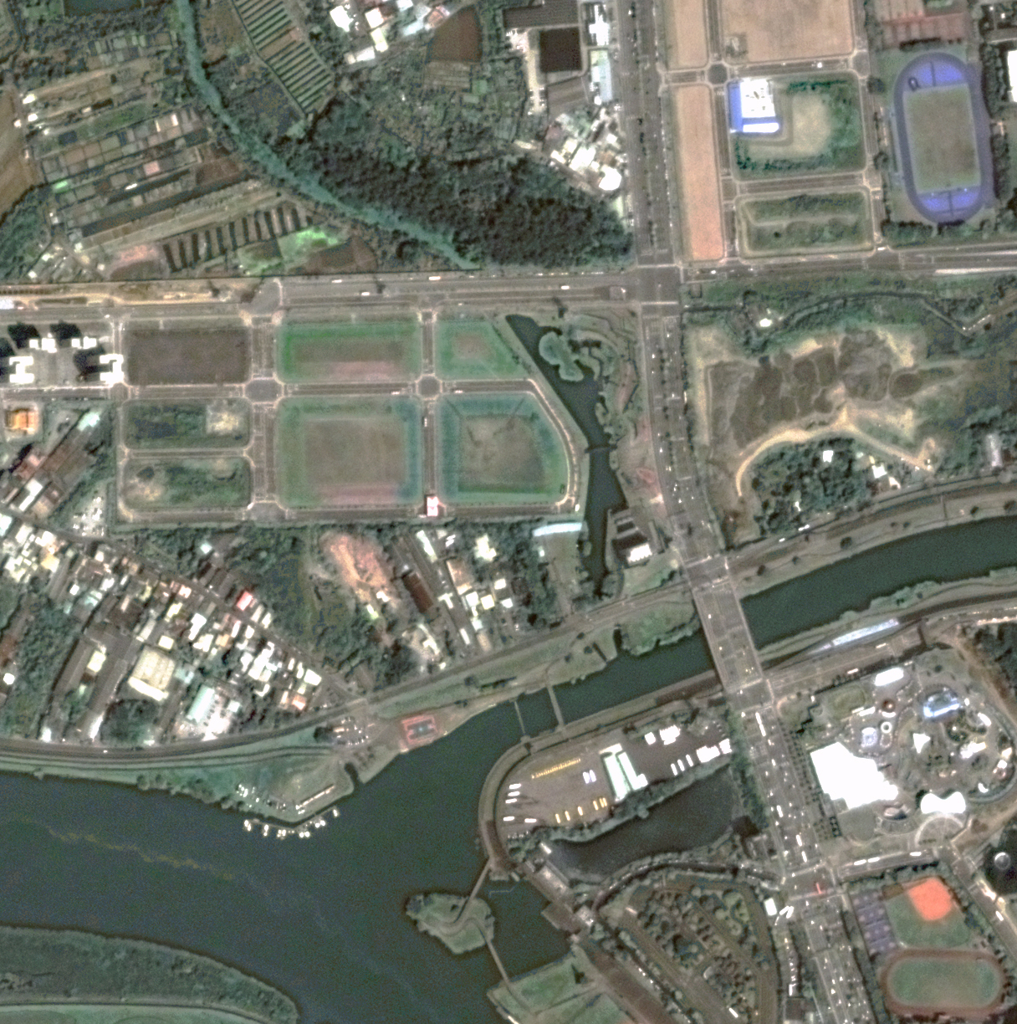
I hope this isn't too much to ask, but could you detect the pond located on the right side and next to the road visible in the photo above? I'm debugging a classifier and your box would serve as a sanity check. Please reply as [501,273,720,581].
[545,765,736,882]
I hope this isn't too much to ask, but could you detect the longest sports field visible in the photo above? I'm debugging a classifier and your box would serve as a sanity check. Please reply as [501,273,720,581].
[893,53,993,223]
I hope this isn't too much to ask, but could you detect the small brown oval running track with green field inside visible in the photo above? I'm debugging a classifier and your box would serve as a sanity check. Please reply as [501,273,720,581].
[880,948,1005,1015]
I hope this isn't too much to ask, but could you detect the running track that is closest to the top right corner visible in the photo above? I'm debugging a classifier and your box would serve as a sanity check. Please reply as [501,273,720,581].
[893,53,993,223]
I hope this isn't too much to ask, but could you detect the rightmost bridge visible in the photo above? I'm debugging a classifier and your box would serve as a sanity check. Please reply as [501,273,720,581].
[694,577,767,690]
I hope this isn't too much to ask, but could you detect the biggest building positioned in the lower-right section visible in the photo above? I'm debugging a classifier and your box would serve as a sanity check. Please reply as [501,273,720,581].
[810,742,898,809]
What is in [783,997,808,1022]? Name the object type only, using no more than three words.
building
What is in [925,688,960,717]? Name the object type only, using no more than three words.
building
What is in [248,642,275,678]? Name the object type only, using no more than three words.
house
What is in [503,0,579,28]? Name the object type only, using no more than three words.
house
